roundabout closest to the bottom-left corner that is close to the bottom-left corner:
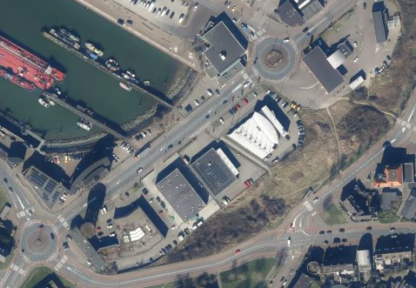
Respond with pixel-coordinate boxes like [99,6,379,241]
[17,220,61,263]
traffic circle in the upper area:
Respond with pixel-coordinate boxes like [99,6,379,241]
[250,35,295,80]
